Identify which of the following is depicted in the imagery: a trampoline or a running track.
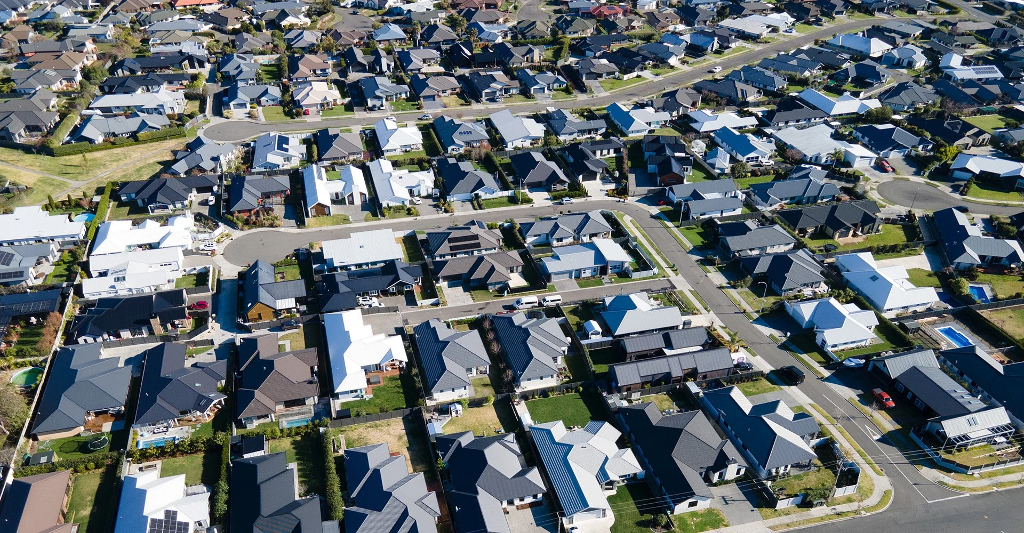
trampoline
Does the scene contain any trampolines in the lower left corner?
Yes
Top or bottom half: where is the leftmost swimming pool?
bottom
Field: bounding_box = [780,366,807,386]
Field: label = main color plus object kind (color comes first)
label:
black car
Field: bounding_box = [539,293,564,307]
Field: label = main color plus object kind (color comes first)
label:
white vehicle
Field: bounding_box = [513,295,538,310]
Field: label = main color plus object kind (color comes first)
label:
white vehicle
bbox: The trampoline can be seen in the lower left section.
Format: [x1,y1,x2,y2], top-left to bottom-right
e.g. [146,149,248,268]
[82,424,110,451]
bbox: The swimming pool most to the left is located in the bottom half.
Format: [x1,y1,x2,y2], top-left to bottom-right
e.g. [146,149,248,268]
[7,366,41,388]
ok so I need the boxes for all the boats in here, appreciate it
[832,357,870,371]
